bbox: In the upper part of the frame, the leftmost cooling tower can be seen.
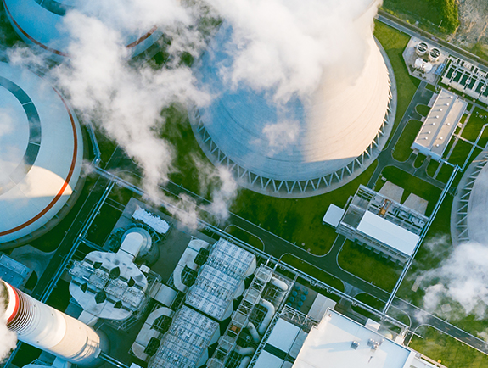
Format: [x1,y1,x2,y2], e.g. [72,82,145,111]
[184,0,403,201]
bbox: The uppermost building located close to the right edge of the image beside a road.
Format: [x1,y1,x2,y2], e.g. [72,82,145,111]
[410,88,469,163]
